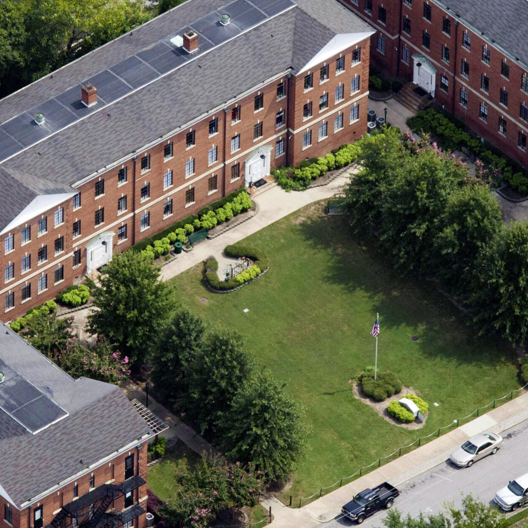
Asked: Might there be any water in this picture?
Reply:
No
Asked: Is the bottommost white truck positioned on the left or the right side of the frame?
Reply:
right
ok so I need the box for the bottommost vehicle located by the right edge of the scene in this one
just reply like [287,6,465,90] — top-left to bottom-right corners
[492,476,528,513]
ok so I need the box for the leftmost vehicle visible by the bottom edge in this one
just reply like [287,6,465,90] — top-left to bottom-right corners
[339,483,404,528]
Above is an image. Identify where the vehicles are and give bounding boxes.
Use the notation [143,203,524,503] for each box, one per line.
[339,483,404,528]
[448,432,505,471]
[492,476,528,513]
